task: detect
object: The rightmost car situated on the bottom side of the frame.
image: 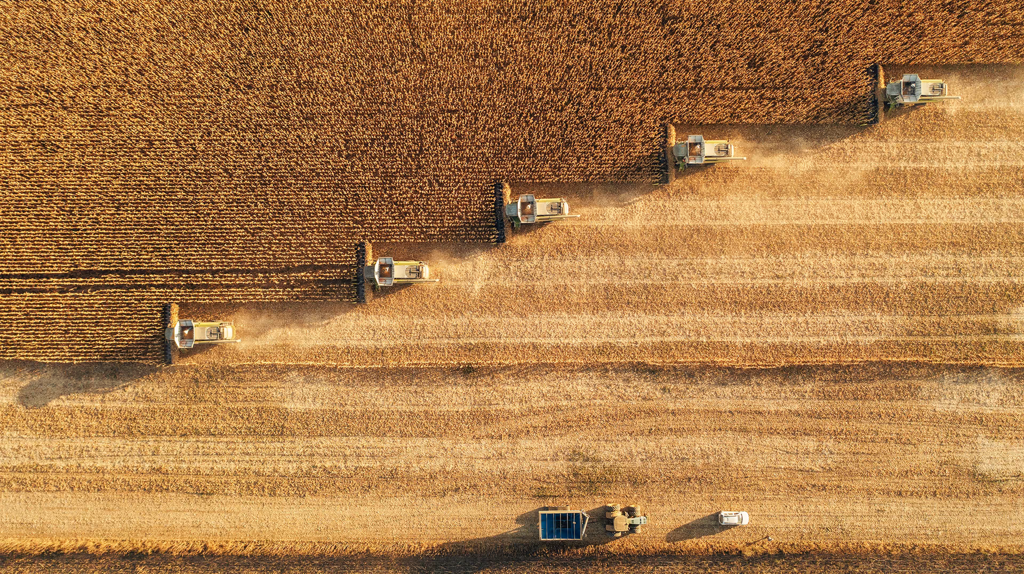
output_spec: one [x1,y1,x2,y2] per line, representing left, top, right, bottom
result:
[718,511,748,526]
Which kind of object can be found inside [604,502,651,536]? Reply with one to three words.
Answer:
work vehicle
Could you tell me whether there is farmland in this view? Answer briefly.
Yes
